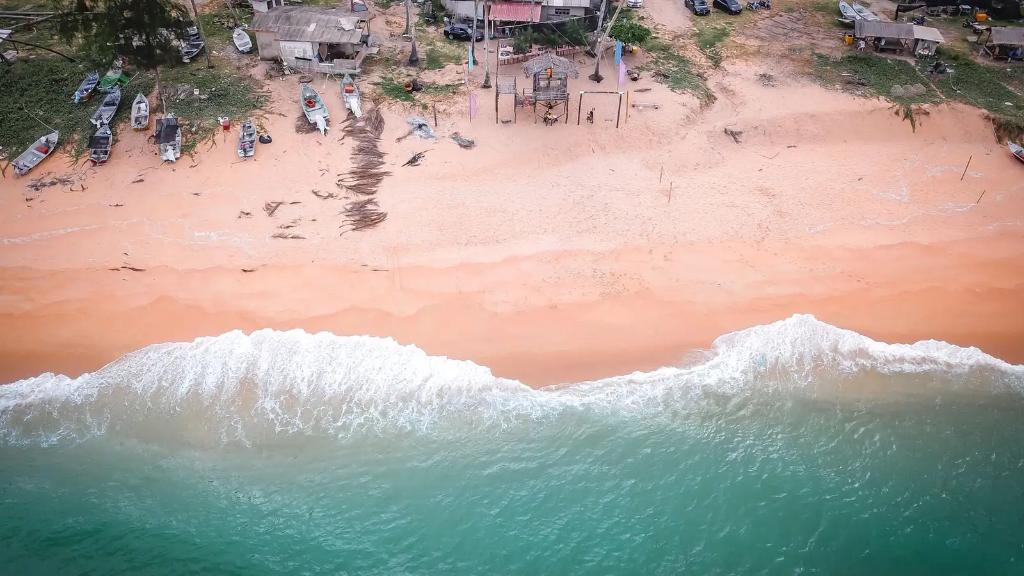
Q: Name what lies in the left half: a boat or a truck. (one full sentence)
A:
There is a boat in the left half.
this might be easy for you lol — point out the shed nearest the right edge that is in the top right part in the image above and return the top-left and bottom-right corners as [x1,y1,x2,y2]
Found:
[974,24,1024,61]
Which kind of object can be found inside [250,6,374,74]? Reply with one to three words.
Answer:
house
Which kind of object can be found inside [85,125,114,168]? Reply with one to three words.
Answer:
boat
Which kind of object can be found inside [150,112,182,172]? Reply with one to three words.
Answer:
boat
